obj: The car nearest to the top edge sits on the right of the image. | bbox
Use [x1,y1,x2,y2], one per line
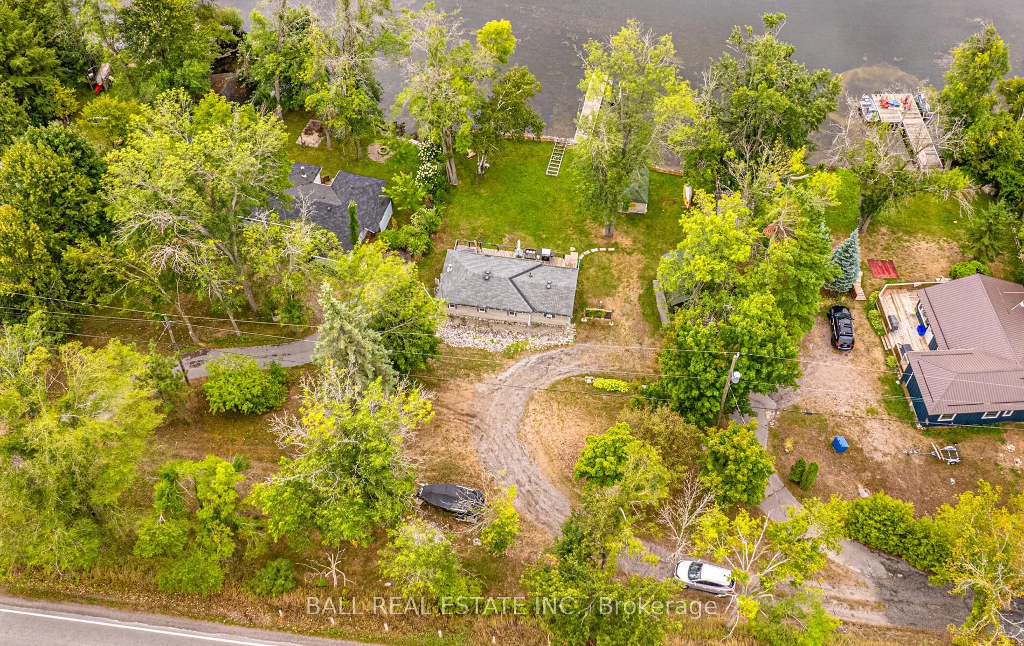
[826,306,858,353]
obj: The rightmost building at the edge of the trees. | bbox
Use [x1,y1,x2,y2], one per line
[898,271,1024,431]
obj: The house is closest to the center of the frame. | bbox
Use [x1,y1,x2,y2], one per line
[426,251,580,329]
